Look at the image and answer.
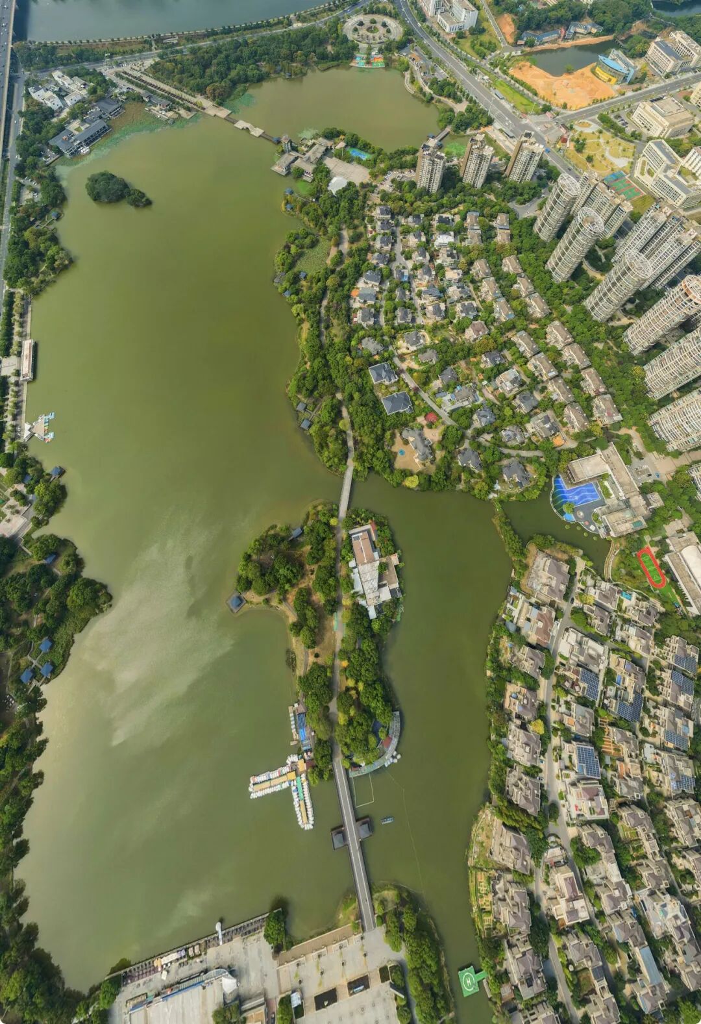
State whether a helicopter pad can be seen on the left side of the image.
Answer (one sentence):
No, there is no helicopter pad on the left side of the image.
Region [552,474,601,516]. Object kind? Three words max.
swimming pool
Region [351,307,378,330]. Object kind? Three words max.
house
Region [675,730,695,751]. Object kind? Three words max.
solar panel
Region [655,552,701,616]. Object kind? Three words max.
building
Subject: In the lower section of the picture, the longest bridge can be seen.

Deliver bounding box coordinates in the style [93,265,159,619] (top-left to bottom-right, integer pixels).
[330,756,377,936]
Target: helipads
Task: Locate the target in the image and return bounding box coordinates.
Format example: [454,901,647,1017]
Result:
[458,964,487,997]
